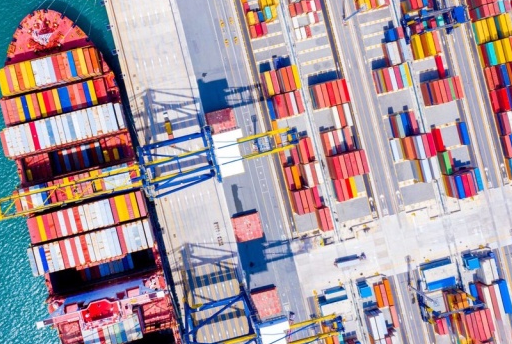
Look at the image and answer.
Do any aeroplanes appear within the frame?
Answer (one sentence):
No, the picture doesn't show any aeroplane.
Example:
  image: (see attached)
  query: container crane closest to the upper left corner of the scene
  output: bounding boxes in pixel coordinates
[0,121,302,222]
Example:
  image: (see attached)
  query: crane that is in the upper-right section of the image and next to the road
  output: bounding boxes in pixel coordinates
[396,2,470,43]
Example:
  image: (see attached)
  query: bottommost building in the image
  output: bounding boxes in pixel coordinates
[318,296,353,319]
